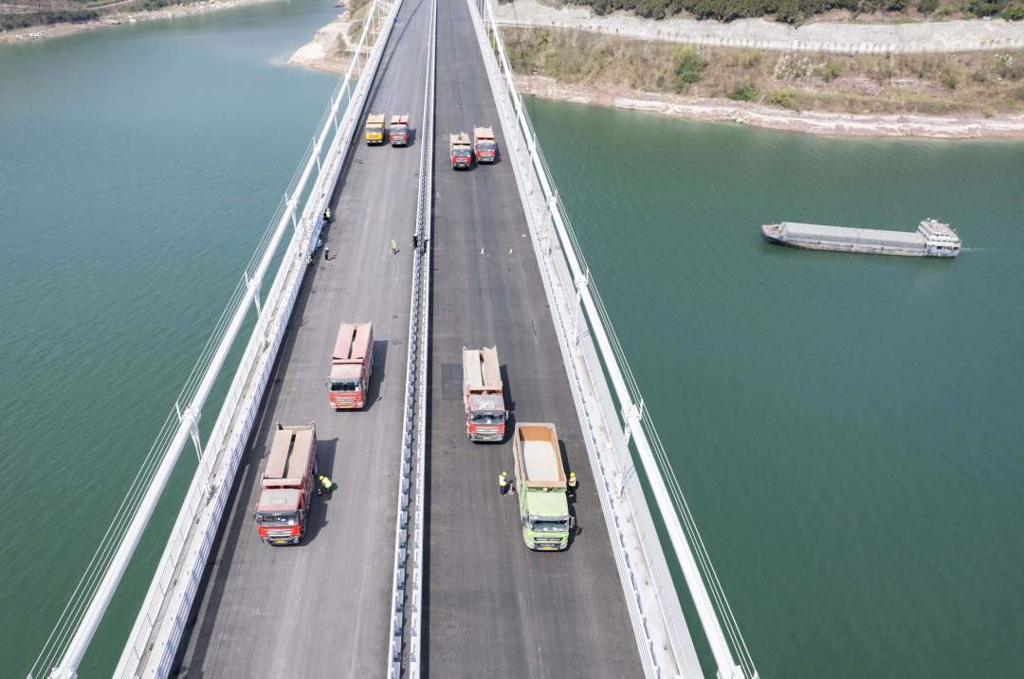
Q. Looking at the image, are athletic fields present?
No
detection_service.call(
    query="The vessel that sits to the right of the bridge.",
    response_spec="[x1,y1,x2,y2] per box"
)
[760,218,961,260]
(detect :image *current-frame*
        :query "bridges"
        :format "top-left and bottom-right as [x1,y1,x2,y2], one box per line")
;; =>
[30,0,759,679]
